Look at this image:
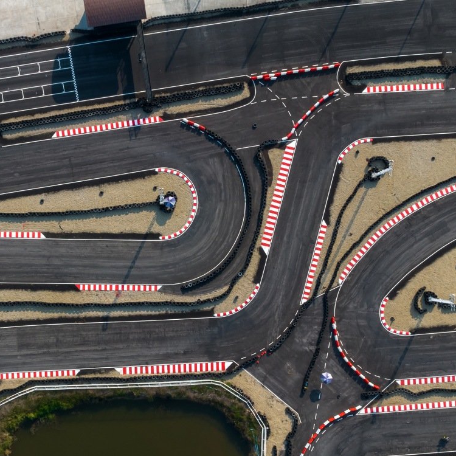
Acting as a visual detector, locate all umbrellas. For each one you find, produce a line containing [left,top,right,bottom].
[320,372,333,384]
[163,197,176,210]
